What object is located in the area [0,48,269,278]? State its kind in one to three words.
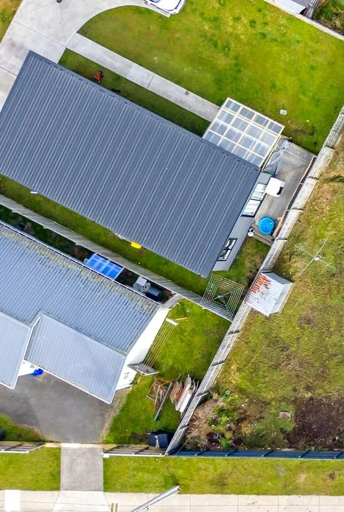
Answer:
house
